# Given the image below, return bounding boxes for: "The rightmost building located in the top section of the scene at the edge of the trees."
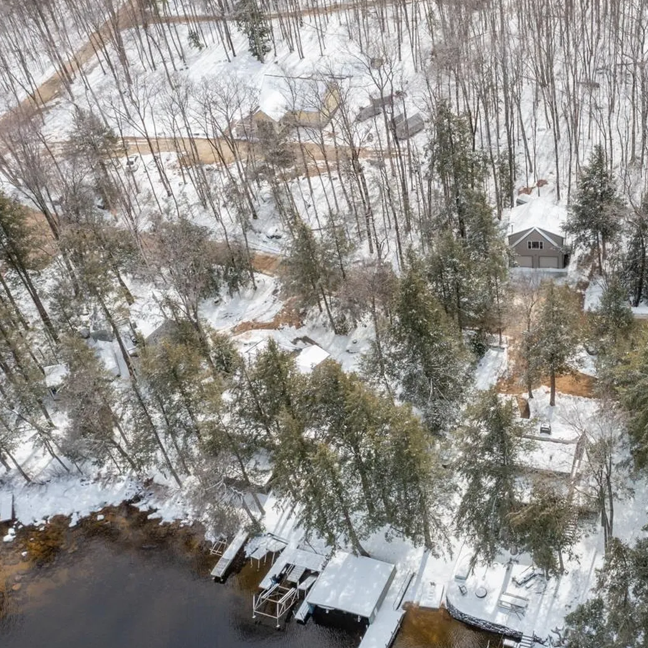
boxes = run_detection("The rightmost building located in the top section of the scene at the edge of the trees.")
[506,191,573,270]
